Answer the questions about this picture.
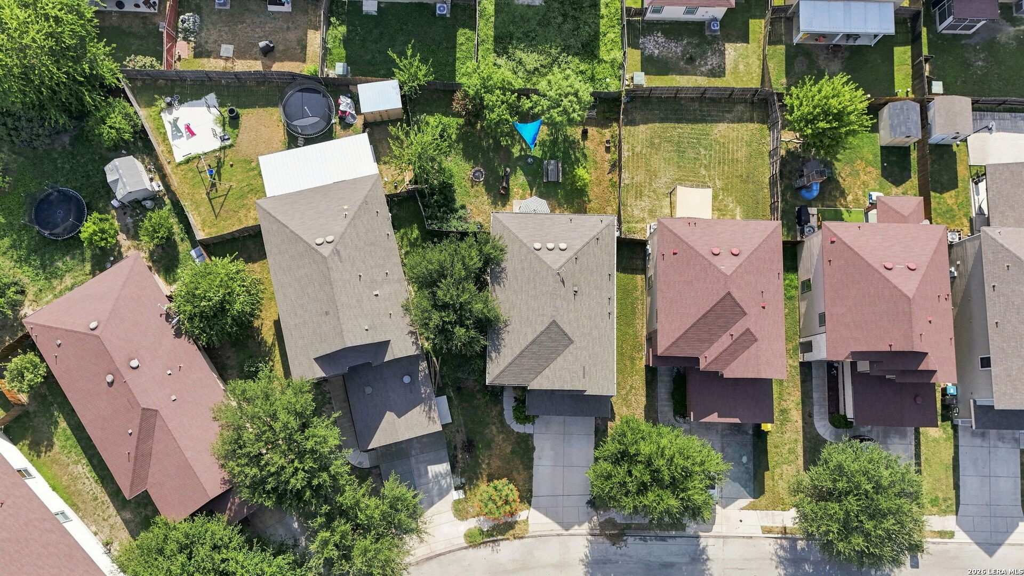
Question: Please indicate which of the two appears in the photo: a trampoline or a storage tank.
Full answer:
The one in the frame is a trampoline.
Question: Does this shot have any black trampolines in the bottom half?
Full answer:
No, there's no black trampoline to be seen in the bottom half.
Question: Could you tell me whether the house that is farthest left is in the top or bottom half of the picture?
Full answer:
The house that is farthest left is in the bottom half of the image.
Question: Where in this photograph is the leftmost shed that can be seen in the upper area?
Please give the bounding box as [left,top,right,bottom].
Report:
[104,156,161,203]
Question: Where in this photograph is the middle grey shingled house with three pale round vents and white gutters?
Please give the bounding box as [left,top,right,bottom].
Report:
[484,210,618,417]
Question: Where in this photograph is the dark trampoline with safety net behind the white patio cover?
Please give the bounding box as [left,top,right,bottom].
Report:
[276,78,338,144]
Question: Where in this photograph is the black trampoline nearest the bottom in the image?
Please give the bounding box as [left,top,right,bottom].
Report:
[21,182,90,243]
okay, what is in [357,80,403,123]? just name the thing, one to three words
shed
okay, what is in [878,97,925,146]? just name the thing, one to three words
shed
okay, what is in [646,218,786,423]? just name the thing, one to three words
house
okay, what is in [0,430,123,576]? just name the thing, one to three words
house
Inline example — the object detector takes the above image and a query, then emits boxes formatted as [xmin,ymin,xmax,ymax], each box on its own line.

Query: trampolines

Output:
[21,182,90,243]
[276,78,338,144]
